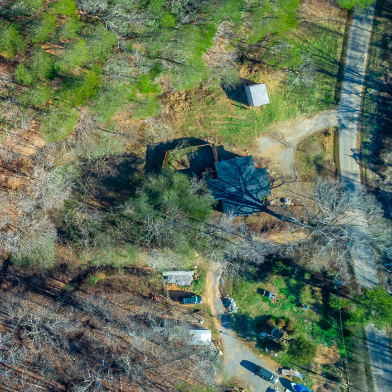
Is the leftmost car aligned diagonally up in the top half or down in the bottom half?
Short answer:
bottom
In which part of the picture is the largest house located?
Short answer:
center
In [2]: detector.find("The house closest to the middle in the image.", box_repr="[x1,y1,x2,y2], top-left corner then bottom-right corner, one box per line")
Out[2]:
[198,149,271,217]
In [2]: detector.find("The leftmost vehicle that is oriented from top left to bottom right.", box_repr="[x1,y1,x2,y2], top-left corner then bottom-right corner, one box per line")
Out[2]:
[254,364,279,383]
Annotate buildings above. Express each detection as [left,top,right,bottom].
[168,326,211,343]
[244,84,269,107]
[159,269,194,285]
[198,149,271,217]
